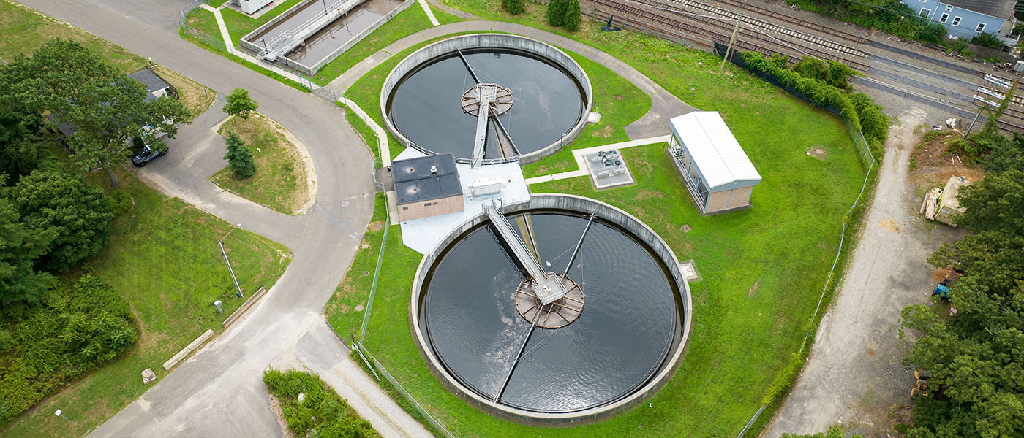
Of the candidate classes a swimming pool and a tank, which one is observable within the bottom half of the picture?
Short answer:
tank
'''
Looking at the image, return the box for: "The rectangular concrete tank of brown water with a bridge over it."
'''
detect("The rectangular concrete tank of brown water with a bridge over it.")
[242,0,416,75]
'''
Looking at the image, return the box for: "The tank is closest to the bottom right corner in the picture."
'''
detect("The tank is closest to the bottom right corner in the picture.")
[412,193,692,425]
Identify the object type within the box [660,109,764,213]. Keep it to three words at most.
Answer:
shed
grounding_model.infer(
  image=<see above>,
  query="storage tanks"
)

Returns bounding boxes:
[242,0,416,75]
[380,33,592,167]
[412,193,692,425]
